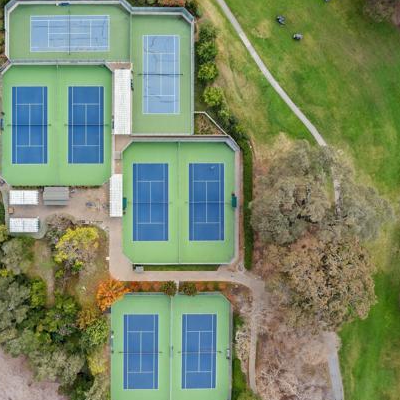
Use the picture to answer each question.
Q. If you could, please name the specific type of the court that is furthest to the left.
tennis court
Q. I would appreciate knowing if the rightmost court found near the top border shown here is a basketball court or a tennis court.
tennis court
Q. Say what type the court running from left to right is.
tennis court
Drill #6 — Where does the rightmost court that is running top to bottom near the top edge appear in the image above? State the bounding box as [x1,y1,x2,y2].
[131,15,191,134]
